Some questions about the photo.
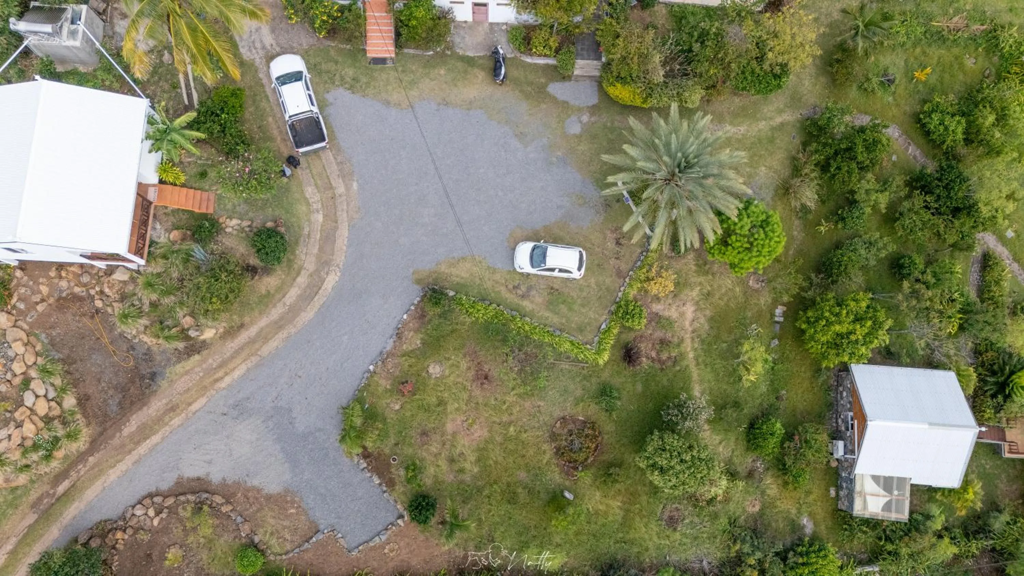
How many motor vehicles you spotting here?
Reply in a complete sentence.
The photo contains 3 motor vehicles.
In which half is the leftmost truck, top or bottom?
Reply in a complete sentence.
The leftmost truck is in the top half of the image.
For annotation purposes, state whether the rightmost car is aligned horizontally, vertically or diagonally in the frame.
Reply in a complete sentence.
The rightmost car has been laid out horizontally relative to the frame.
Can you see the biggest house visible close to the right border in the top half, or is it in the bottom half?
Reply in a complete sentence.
The bottom half of the photo is where the biggest house visible close to the right border is.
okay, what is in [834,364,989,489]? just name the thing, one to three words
house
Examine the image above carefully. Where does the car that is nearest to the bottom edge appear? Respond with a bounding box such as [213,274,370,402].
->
[513,239,587,282]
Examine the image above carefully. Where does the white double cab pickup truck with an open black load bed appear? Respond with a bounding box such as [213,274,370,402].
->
[270,58,328,158]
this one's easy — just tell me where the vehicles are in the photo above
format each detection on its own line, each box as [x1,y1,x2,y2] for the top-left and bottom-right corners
[486,41,507,84]
[270,58,328,158]
[513,239,587,282]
